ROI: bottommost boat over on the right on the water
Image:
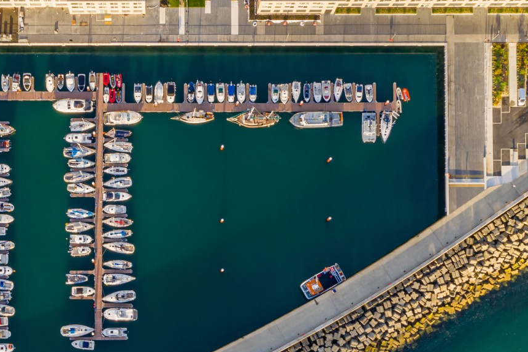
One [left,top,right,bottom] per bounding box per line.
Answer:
[296,262,342,298]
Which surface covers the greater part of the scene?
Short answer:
water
